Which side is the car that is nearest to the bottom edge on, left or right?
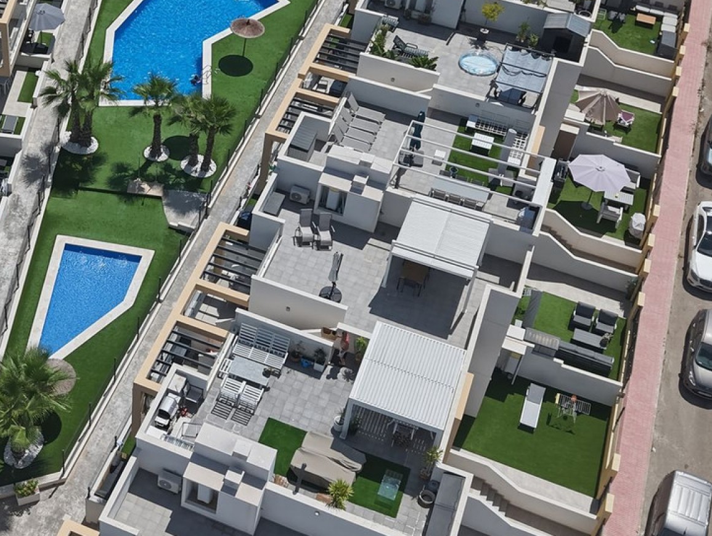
right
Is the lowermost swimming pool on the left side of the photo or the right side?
left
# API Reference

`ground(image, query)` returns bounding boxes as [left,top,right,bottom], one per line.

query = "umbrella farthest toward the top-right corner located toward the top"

[588,94,643,137]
